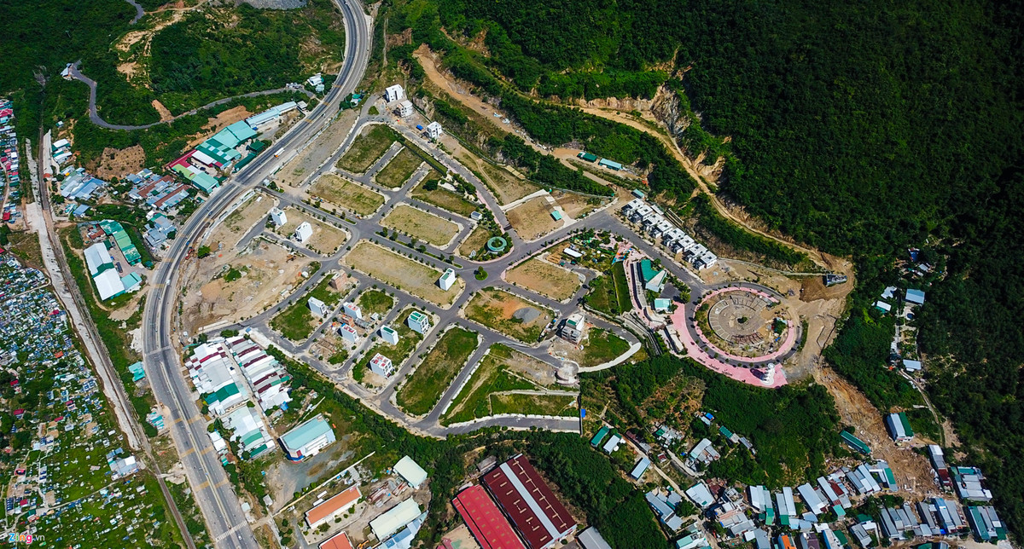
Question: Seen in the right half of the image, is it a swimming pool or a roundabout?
roundabout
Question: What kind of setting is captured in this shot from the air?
residential area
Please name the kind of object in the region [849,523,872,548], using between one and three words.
house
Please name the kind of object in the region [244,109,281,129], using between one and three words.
building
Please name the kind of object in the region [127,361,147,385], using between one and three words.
building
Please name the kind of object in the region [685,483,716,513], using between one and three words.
house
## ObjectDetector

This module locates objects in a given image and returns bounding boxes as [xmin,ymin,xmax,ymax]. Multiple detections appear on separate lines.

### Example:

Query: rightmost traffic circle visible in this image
[683,281,805,369]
